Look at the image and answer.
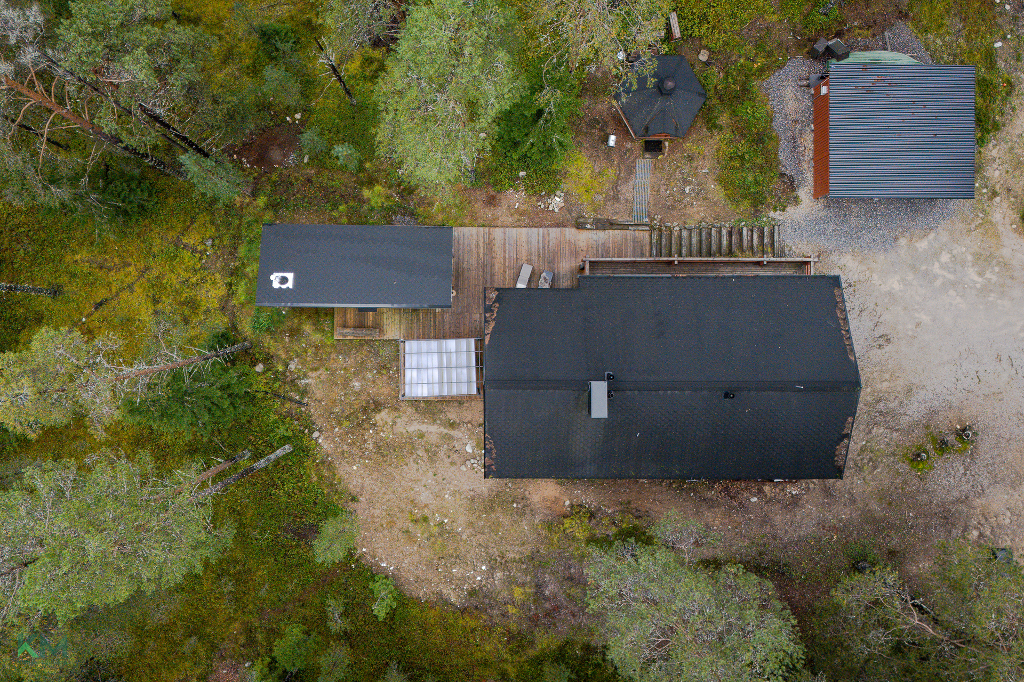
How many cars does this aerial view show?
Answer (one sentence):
No cars are visible.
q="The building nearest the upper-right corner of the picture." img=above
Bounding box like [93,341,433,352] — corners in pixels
[813,62,976,200]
